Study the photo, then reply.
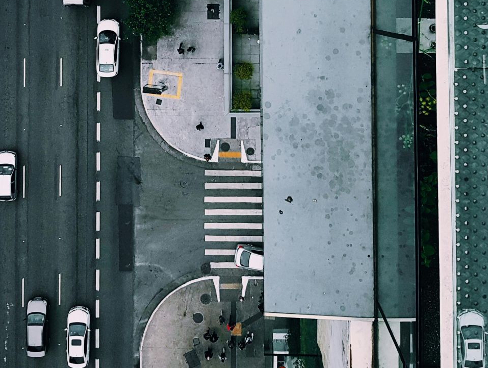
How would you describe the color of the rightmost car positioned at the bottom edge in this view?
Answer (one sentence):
In this view, the rightmost car positioned at the bottom edge is white.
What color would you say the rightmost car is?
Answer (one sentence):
The color of the rightmost car is white.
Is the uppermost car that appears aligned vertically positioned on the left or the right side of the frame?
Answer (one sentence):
You can find the uppermost car that appears aligned vertically on the left side of the picture.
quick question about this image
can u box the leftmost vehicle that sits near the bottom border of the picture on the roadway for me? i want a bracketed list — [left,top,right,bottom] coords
[23,296,51,358]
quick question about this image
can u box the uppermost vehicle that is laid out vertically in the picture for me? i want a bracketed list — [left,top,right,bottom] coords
[94,19,122,77]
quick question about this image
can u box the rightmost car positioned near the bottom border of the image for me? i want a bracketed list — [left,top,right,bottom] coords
[63,305,93,368]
